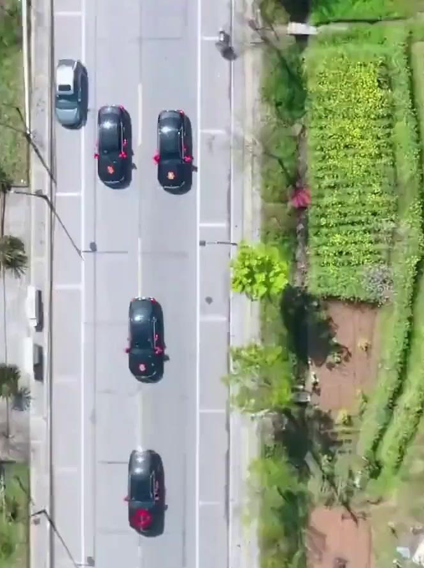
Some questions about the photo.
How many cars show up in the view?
5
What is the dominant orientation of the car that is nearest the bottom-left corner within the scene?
vertically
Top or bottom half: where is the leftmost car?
top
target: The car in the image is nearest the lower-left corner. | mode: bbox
[123,450,159,532]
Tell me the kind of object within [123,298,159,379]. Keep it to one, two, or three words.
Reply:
car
